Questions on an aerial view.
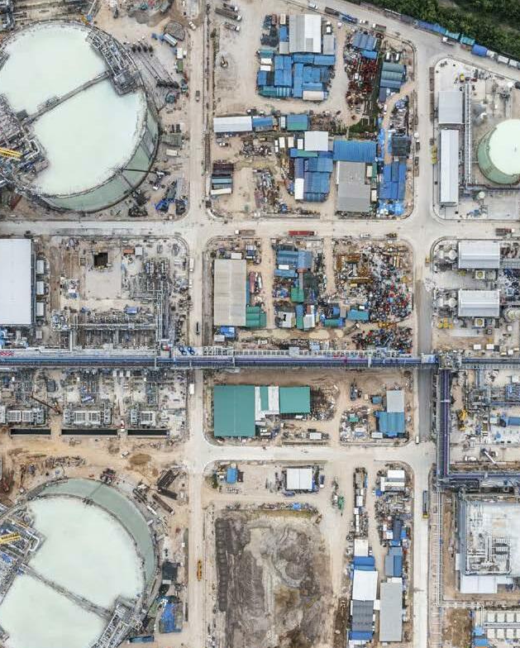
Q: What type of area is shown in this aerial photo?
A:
industrial area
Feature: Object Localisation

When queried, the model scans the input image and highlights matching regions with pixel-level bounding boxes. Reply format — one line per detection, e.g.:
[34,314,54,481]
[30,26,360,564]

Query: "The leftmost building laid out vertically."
[0,239,37,325]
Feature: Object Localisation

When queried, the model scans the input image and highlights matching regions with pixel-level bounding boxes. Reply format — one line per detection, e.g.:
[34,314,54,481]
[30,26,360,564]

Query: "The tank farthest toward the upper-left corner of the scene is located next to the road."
[0,21,160,213]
